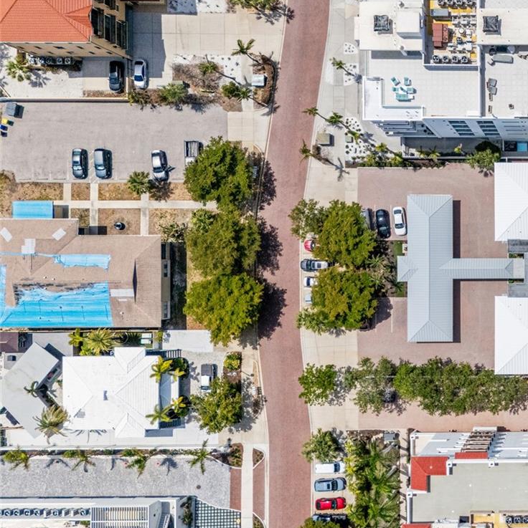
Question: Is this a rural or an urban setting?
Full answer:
From above, the setting appears urban.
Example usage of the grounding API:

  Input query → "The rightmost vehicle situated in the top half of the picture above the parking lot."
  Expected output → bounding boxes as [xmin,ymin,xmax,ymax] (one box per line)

[132,58,149,90]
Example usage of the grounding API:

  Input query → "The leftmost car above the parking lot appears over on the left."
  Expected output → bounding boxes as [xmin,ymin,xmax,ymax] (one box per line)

[106,61,124,92]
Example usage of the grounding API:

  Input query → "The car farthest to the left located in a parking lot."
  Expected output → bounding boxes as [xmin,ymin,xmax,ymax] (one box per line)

[72,148,89,178]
